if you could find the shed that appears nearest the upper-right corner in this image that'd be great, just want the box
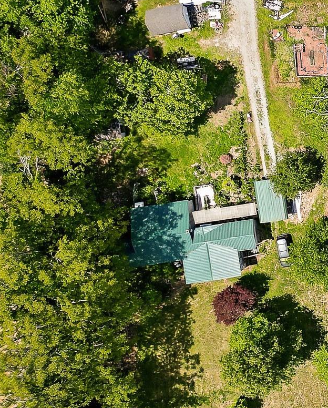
[145,4,194,37]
